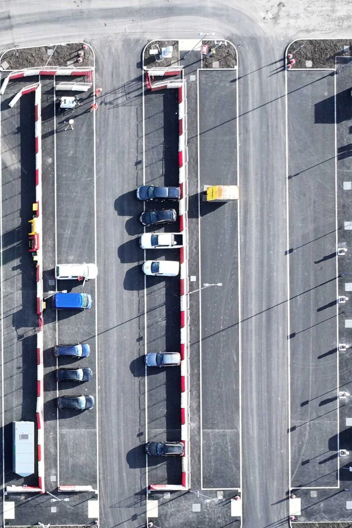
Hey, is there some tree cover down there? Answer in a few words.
No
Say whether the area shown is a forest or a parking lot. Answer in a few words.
parking lot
